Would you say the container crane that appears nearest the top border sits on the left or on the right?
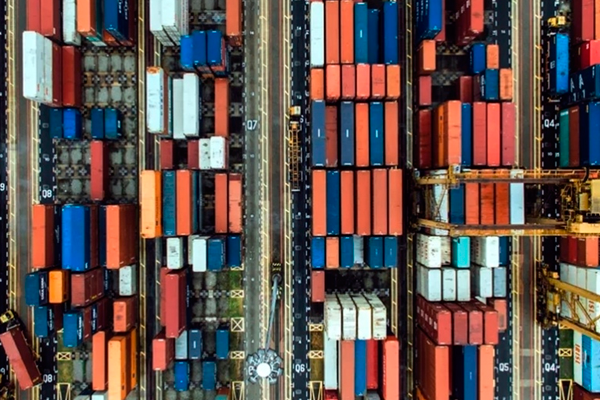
right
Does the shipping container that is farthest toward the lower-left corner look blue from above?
No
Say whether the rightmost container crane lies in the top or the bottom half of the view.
bottom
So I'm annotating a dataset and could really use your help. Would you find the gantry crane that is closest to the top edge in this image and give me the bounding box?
[405,159,600,237]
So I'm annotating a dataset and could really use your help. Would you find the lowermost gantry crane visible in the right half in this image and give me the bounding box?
[538,266,600,345]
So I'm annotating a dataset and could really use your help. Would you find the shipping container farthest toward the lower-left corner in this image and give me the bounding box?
[0,325,41,389]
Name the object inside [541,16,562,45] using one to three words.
truck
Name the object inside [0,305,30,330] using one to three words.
truck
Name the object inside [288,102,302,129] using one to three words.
vehicle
